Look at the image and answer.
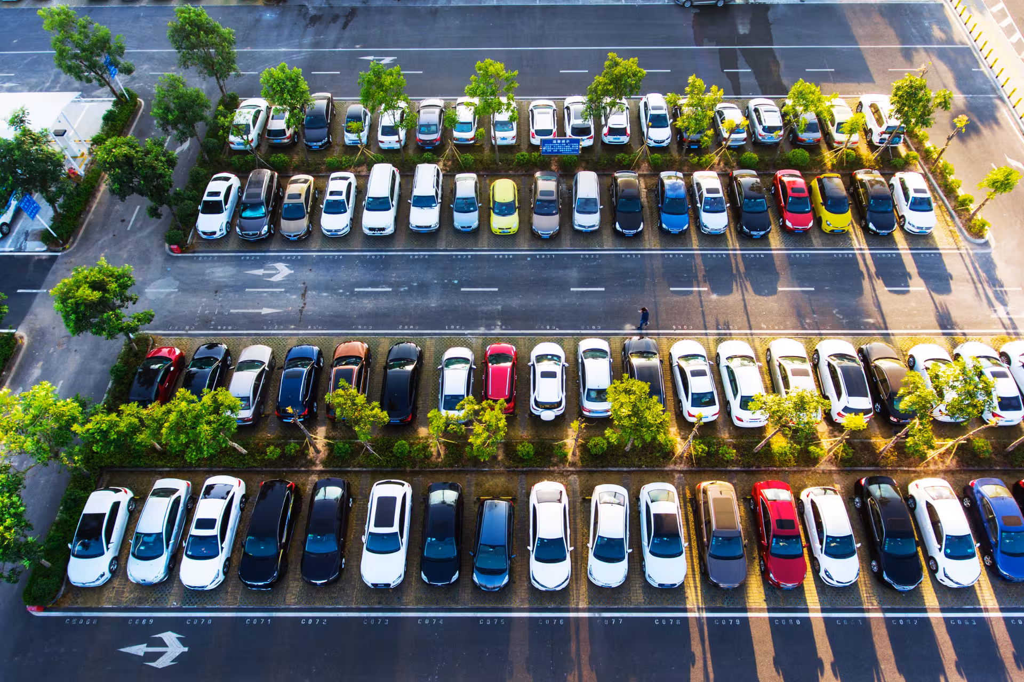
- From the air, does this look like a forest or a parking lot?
parking lot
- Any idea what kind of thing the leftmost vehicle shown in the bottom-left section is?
automobile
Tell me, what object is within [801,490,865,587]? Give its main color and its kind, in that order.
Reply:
white car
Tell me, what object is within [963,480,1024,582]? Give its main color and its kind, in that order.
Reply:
blue car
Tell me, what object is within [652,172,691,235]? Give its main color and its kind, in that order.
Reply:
blue car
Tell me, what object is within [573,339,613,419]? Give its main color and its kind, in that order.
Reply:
white car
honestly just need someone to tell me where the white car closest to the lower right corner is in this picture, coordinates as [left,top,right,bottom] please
[907,480,980,588]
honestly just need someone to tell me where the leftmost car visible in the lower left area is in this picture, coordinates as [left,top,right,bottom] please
[63,491,133,588]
